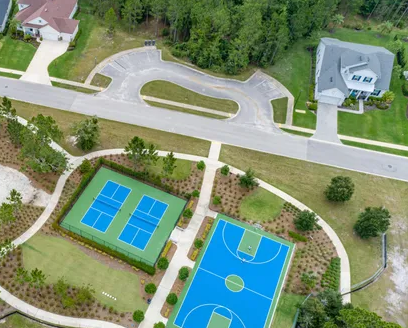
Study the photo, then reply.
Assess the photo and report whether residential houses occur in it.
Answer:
Yes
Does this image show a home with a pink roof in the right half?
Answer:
No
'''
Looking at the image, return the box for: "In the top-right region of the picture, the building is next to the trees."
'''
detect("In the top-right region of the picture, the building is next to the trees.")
[317,40,401,107]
